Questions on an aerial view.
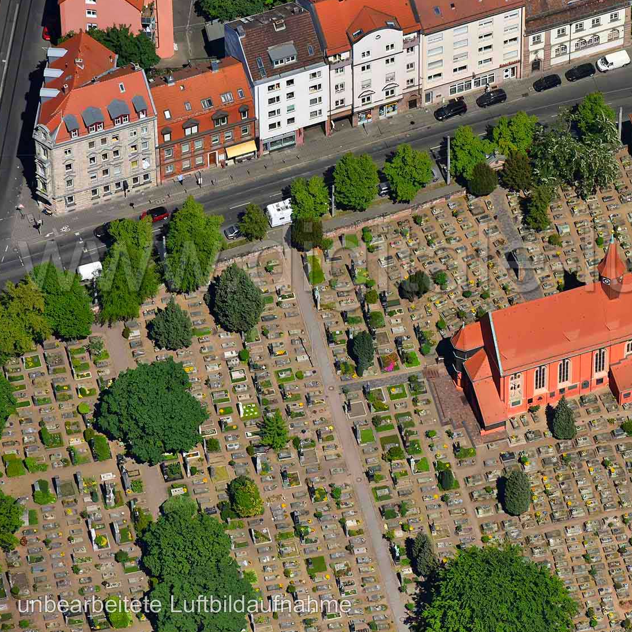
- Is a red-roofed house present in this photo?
Yes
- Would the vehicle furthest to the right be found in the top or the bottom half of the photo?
top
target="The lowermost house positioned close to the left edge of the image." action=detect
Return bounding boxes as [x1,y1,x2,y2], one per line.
[31,36,158,214]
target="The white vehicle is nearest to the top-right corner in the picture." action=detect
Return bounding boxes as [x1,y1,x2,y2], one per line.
[596,47,631,71]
